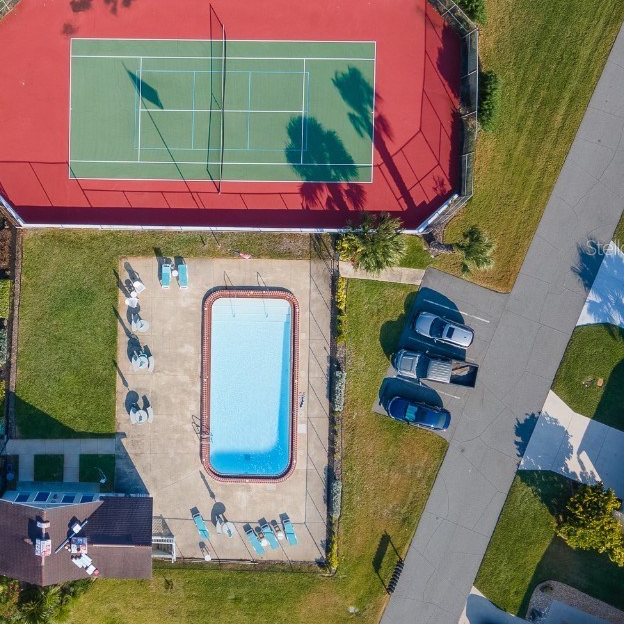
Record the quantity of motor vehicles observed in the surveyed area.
three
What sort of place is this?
sports ground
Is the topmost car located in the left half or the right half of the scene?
right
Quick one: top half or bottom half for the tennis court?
top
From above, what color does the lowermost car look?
blue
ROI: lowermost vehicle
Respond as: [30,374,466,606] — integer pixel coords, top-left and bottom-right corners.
[386,393,451,432]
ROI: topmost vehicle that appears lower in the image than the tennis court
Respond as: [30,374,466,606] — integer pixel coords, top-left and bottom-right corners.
[414,310,476,352]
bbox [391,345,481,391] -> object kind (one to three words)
truck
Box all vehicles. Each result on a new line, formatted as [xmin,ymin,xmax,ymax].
[386,393,451,432]
[391,345,481,391]
[414,310,476,352]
